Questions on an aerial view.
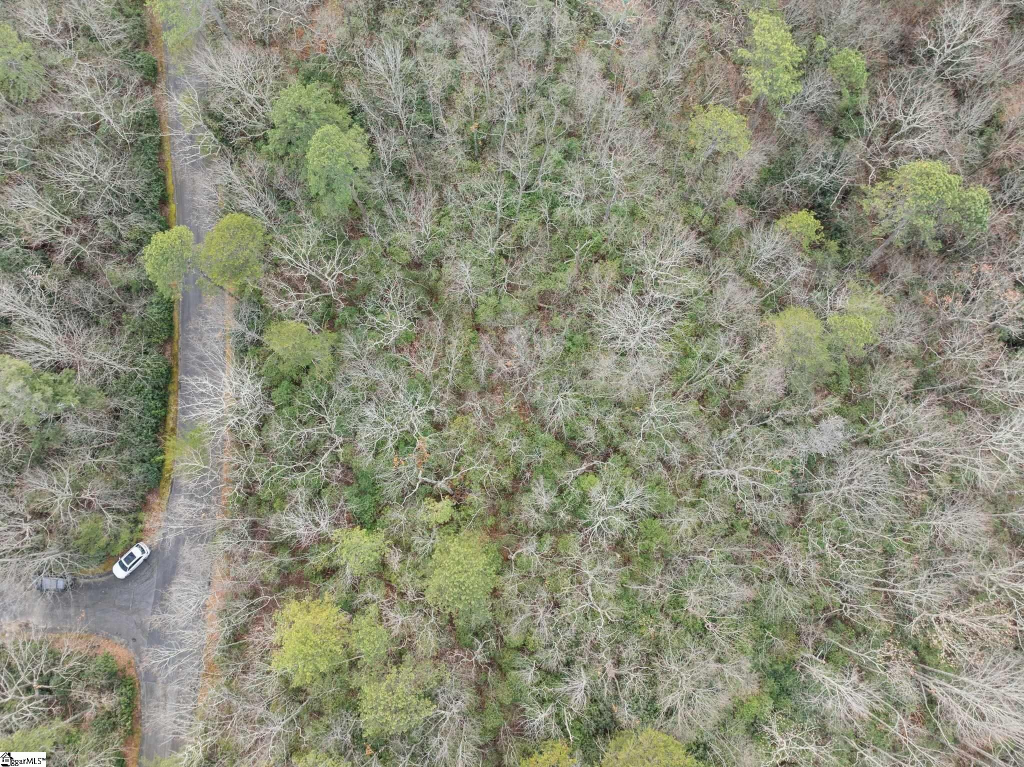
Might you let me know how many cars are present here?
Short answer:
2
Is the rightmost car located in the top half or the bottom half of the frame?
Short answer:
bottom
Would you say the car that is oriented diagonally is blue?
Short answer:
No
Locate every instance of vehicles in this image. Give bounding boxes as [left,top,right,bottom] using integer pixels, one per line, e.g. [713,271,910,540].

[35,574,74,594]
[114,543,151,577]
